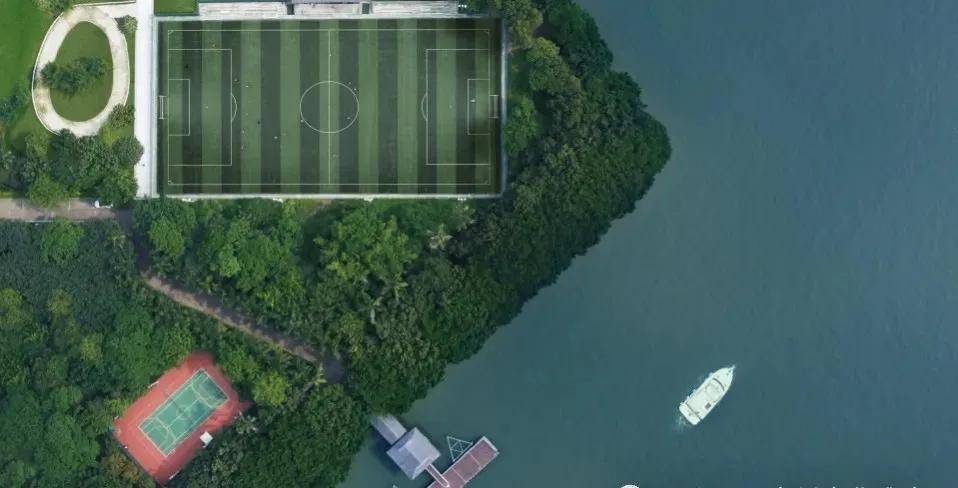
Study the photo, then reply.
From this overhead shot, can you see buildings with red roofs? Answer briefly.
No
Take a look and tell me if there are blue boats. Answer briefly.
No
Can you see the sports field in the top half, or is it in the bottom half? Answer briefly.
top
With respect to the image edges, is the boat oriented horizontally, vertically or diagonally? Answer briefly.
diagonally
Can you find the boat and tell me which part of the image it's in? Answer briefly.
bottom right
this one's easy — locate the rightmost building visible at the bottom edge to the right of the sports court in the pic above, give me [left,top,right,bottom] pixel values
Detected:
[386,429,440,482]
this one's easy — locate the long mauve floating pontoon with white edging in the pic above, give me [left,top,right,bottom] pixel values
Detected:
[428,436,500,488]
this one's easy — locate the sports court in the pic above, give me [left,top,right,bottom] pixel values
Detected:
[113,351,250,486]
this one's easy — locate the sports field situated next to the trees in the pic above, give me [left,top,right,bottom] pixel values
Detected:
[157,20,501,194]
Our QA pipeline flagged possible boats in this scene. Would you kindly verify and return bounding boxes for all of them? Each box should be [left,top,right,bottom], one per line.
[680,367,736,422]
